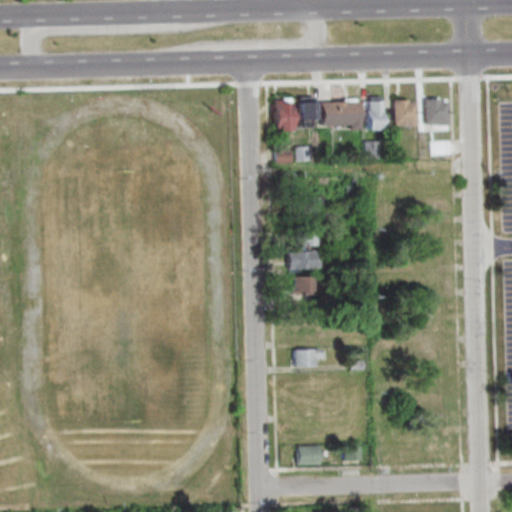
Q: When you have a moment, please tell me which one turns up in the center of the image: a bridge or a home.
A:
home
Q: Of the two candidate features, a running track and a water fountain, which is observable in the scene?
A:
running track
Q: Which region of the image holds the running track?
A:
left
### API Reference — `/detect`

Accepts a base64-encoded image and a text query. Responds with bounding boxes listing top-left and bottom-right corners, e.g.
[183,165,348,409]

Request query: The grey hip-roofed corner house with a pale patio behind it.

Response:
[423,96,450,124]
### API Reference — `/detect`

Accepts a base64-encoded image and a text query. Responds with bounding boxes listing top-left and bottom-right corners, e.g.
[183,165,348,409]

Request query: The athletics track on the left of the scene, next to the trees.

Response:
[18,90,230,496]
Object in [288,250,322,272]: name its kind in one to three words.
house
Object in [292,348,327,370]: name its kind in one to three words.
house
